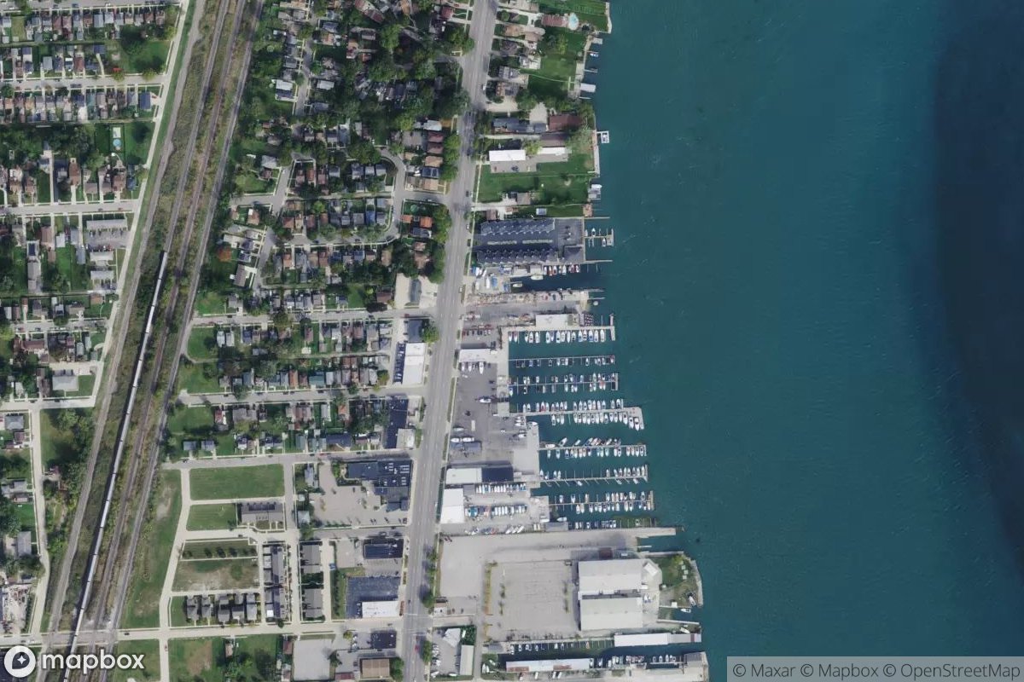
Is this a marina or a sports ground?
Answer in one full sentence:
The picture captures a marina.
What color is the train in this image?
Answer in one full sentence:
The color of the train is white.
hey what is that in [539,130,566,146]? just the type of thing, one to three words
house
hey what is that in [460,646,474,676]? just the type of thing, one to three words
shed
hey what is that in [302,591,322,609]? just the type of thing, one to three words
house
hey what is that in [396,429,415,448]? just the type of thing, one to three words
building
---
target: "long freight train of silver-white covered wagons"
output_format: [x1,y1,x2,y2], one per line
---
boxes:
[64,253,167,682]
